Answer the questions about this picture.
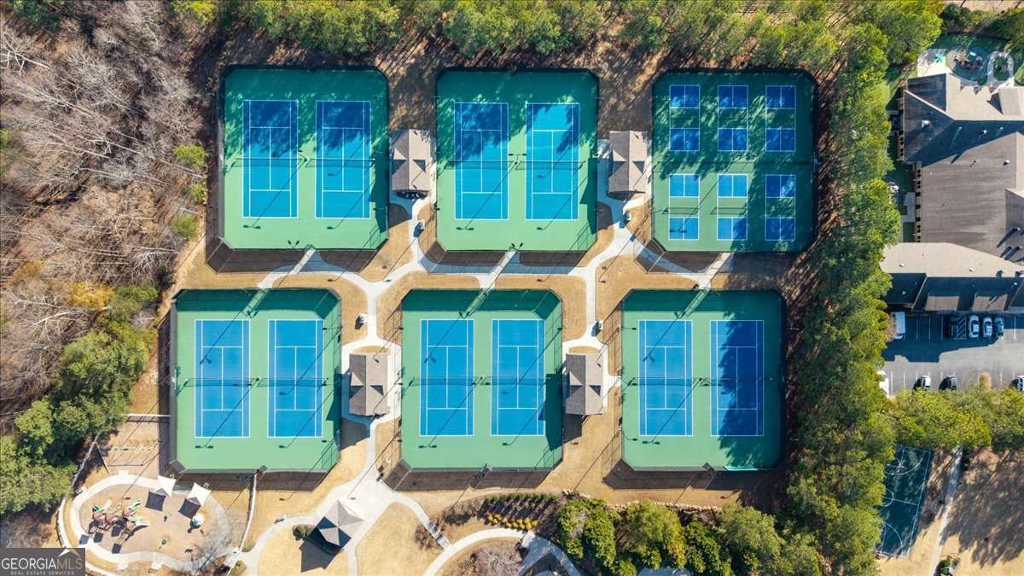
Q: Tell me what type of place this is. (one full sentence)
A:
The area seen from above is a sports ground.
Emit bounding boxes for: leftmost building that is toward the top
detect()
[392,127,430,190]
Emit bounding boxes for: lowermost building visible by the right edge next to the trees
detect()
[874,73,1024,312]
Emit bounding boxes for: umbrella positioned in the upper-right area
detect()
[936,48,951,65]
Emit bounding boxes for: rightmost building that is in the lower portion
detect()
[565,354,604,417]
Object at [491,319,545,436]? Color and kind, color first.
blue tennis court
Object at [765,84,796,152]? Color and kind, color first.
blue sports court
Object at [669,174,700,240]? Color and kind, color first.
blue sports court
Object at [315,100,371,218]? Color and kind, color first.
blue tennis court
